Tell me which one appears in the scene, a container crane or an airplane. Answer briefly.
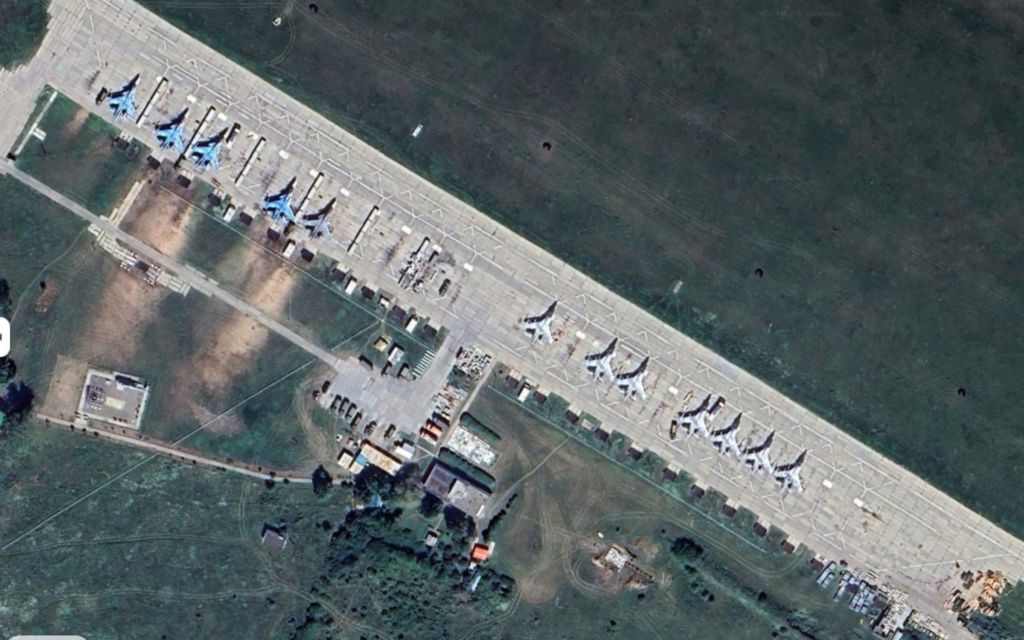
airplane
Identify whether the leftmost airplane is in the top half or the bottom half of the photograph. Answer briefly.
top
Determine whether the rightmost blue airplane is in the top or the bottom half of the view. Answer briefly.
top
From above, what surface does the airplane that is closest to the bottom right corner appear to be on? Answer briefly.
apron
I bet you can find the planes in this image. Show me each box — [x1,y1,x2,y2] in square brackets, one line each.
[106,75,141,122]
[710,415,744,461]
[193,127,228,175]
[526,303,560,349]
[263,180,297,226]
[617,360,651,405]
[586,339,620,386]
[776,452,810,499]
[680,396,714,443]
[303,201,337,247]
[743,433,778,480]
[156,110,190,157]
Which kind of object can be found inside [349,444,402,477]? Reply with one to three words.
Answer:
building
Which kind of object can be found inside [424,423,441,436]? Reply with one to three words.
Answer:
vehicle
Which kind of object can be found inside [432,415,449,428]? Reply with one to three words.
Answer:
vehicle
